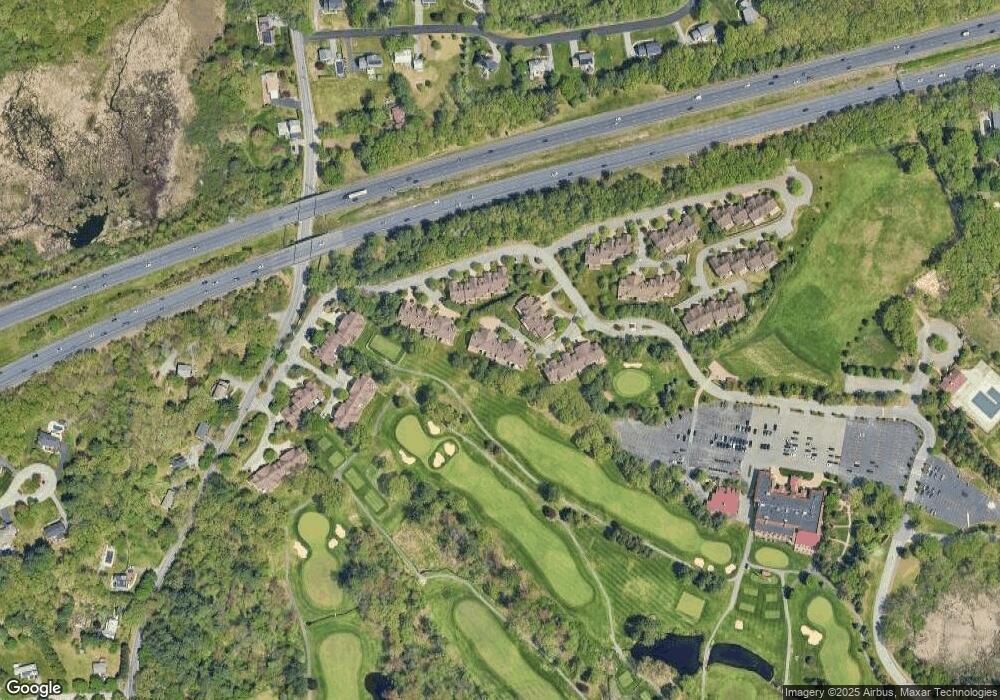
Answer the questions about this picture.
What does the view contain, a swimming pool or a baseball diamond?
swimming pool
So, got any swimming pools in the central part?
No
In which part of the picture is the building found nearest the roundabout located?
right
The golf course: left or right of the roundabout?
left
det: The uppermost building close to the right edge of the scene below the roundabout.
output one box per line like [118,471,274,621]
[938,367,970,397]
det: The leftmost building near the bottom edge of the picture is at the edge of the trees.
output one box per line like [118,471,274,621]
[15,666,38,682]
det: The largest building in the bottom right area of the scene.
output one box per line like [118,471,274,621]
[750,465,826,556]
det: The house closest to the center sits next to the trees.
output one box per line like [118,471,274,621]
[471,331,527,367]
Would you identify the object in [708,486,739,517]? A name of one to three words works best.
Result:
building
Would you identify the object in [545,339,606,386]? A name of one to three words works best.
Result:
house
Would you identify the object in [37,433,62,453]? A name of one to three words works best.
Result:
house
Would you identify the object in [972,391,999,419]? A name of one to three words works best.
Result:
swimming pool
